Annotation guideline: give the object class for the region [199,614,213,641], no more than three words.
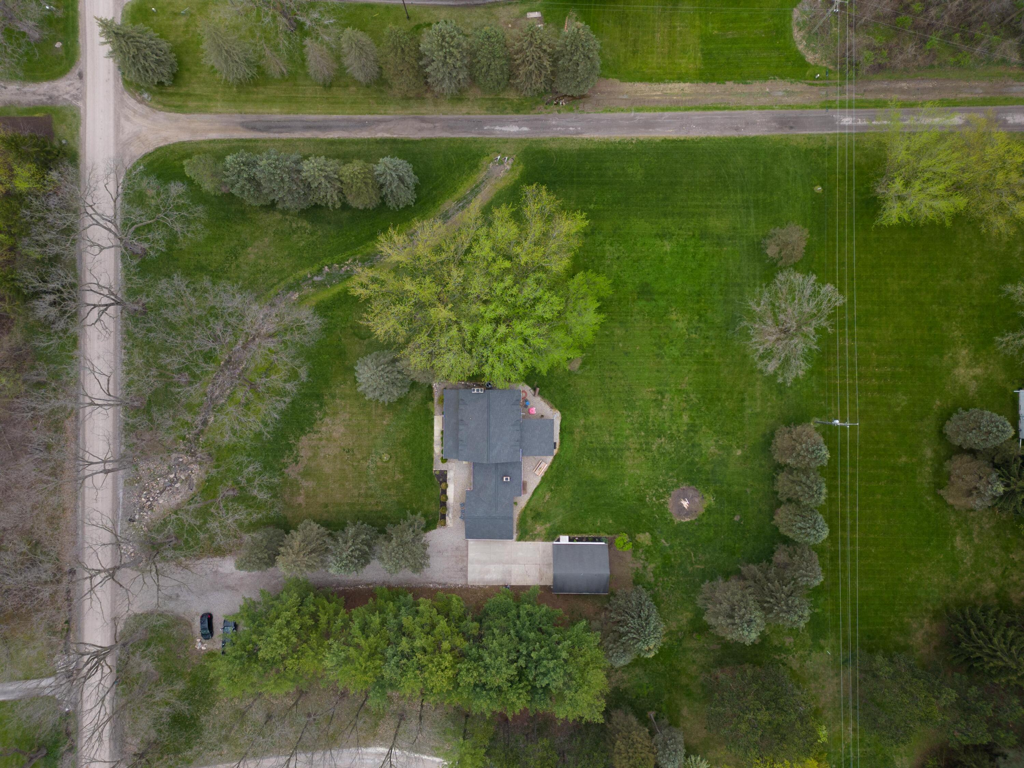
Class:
car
